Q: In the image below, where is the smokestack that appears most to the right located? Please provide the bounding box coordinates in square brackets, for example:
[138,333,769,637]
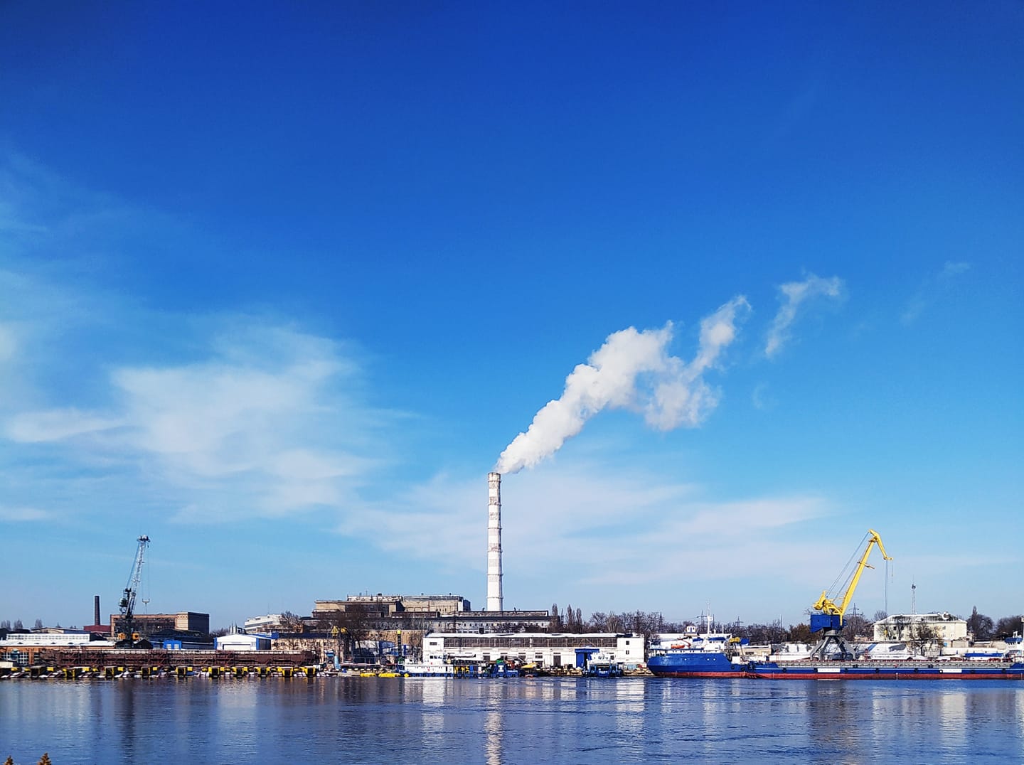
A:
[486,471,503,610]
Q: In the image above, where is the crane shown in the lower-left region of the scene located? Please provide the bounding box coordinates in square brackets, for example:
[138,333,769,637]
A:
[118,537,154,640]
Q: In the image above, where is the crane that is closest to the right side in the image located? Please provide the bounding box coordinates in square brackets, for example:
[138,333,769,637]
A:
[809,529,893,661]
